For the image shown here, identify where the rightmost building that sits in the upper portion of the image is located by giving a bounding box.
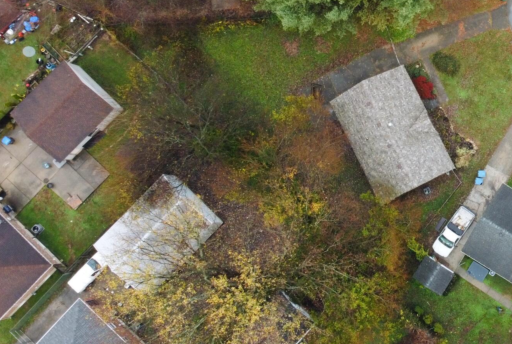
[329,64,455,207]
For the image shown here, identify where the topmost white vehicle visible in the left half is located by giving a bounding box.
[59,252,106,297]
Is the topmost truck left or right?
right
